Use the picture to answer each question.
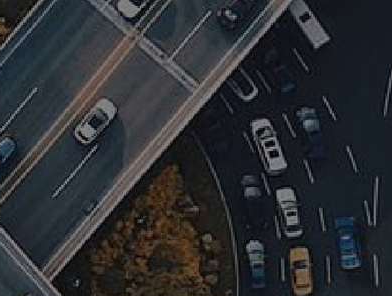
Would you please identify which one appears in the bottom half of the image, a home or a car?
car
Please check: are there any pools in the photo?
No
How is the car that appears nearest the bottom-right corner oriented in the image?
up and down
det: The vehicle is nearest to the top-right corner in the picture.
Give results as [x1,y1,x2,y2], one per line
[279,0,328,54]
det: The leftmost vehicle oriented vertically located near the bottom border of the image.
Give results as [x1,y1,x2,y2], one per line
[241,238,268,292]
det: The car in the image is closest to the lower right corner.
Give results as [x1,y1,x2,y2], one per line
[332,217,360,271]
